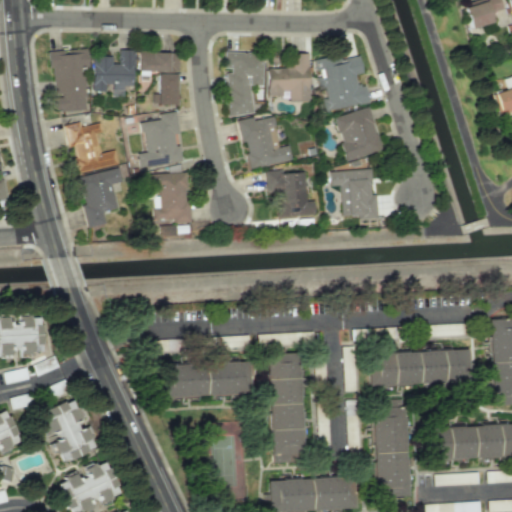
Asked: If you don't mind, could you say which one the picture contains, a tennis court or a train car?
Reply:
tennis court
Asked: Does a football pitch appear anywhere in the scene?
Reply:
No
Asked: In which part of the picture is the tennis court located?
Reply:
bottom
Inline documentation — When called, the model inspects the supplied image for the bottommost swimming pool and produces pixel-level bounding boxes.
[18,454,44,471]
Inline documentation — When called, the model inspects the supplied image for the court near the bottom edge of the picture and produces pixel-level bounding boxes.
[208,422,246,502]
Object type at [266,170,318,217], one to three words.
house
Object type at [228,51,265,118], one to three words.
house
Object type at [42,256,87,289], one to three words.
bridge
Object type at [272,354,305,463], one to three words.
building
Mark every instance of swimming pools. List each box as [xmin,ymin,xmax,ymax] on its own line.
[323,128,336,151]
[277,102,296,114]
[18,454,44,471]
[326,192,336,214]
